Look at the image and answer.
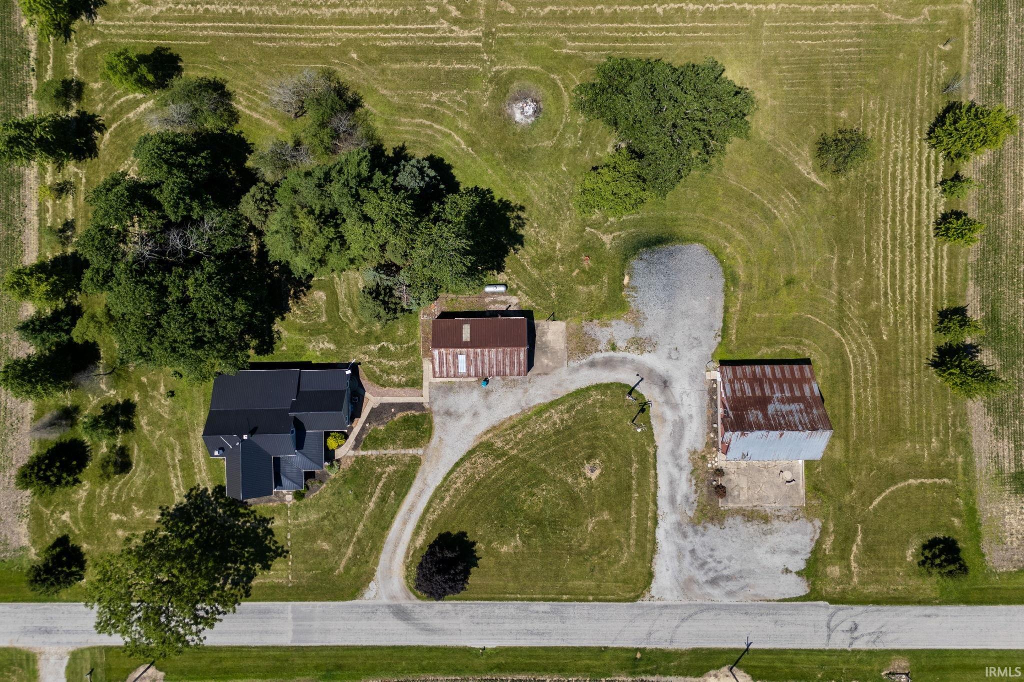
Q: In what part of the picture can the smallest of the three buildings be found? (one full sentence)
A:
The smallest of the three buildings is in the center part of the image.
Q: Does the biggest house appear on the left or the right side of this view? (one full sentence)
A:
It is on the left.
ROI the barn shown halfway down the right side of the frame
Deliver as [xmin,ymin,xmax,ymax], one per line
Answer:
[718,363,833,461]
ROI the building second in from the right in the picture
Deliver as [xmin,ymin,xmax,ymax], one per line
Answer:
[430,315,529,378]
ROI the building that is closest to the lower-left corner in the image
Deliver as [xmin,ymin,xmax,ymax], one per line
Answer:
[202,357,359,501]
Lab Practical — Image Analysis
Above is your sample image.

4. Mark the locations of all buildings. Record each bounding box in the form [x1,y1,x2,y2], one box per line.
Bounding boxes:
[430,315,529,378]
[202,357,359,501]
[718,363,833,461]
